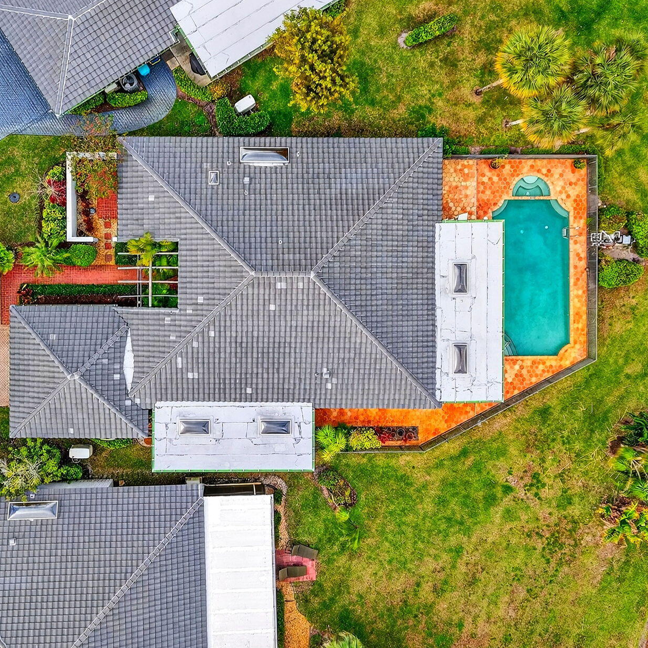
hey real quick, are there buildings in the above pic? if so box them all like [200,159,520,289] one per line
[7,135,507,473]
[0,0,342,118]
[0,474,280,648]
